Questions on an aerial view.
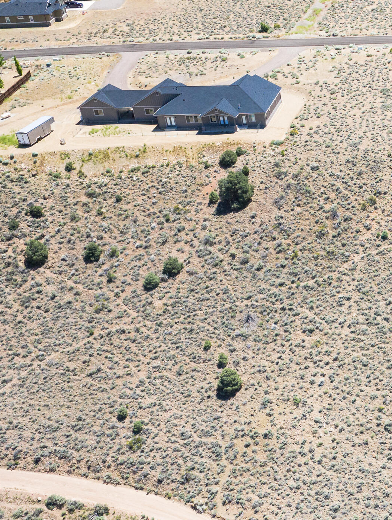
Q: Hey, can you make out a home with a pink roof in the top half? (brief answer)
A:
No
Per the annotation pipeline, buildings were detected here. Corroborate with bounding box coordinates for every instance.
[0,0,78,28]
[76,74,282,132]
